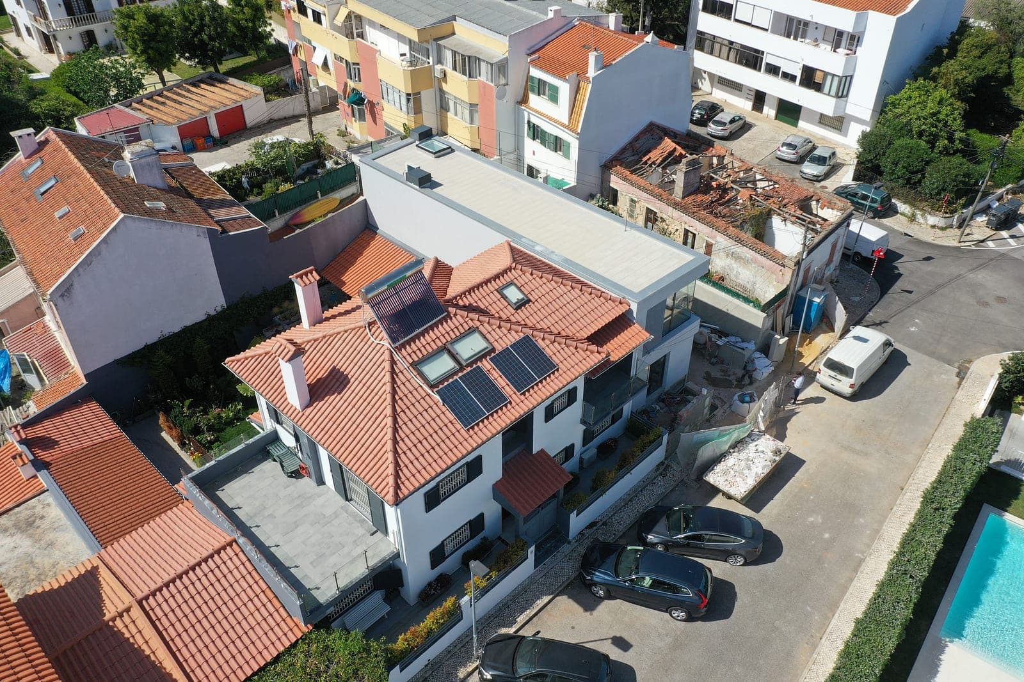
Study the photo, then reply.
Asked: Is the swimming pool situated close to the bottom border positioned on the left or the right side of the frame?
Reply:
right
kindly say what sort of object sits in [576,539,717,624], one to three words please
car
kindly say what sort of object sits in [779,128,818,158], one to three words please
car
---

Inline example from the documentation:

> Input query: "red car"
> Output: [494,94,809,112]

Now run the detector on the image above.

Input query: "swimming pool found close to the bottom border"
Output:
[939,512,1024,682]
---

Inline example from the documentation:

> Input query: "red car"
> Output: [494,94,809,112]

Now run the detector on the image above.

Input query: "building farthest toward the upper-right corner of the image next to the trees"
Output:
[710,0,968,146]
